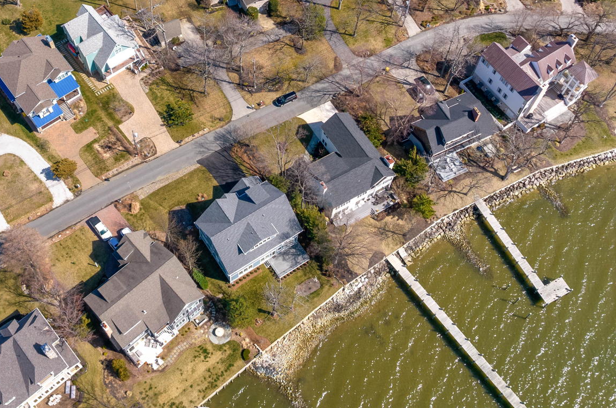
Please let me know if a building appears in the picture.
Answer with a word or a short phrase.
Yes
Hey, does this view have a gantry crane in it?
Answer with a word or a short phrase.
No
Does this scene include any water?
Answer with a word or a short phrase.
Yes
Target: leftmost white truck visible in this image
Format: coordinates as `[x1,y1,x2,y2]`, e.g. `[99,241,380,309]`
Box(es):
[85,215,113,241]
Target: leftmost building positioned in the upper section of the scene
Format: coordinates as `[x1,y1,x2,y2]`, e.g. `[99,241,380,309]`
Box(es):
[0,32,83,136]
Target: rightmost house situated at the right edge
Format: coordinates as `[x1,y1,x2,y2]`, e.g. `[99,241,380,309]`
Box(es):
[477,32,598,137]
